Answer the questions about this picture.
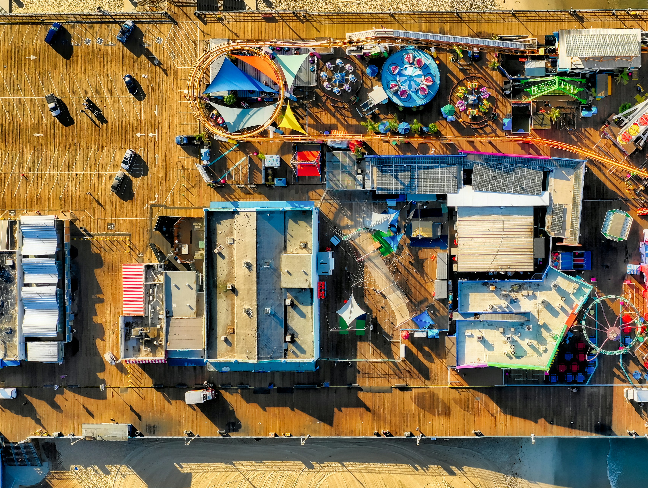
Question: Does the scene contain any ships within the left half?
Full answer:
No, no ship can be made out within the left half.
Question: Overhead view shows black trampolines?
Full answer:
No, there is no black trampoline in the image.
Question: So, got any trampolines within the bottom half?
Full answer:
No, I can find no trampoline within the bottom half.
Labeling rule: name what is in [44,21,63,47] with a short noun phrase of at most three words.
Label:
car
